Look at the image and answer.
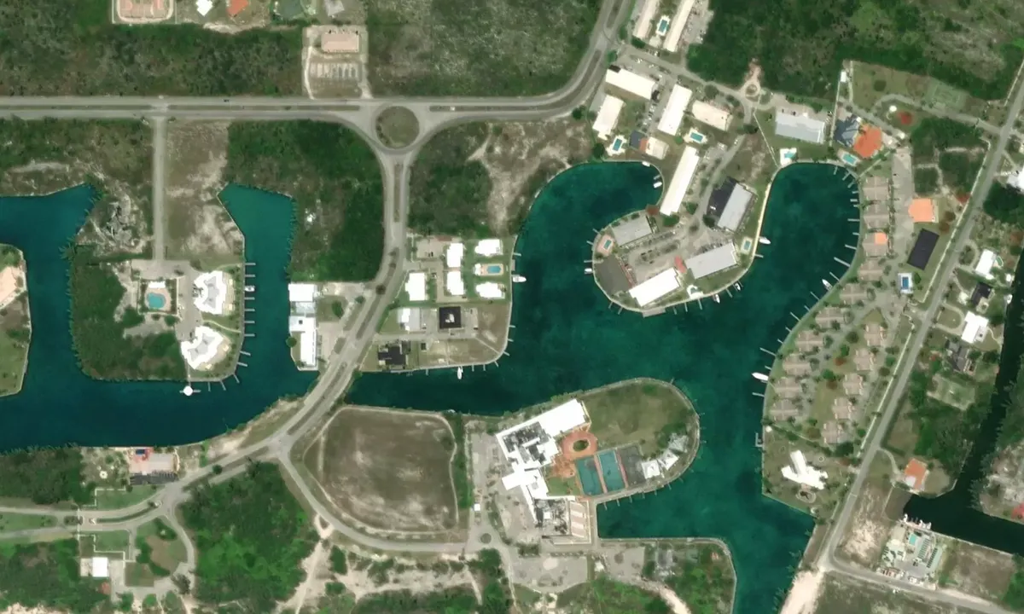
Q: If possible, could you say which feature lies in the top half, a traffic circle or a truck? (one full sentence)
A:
The feature located in the top half is a traffic circle.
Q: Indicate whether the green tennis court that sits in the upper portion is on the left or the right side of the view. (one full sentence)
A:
The green tennis court that sits in the upper portion sits on the right side.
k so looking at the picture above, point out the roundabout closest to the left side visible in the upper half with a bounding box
[368,97,427,157]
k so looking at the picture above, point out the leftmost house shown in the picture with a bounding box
[92,557,109,577]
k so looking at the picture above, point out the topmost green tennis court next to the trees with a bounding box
[923,78,968,113]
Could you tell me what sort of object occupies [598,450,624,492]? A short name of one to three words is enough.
tennis court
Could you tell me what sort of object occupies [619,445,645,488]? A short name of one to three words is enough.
tennis court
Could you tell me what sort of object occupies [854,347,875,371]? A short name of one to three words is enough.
house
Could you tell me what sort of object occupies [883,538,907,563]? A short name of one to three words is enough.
building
